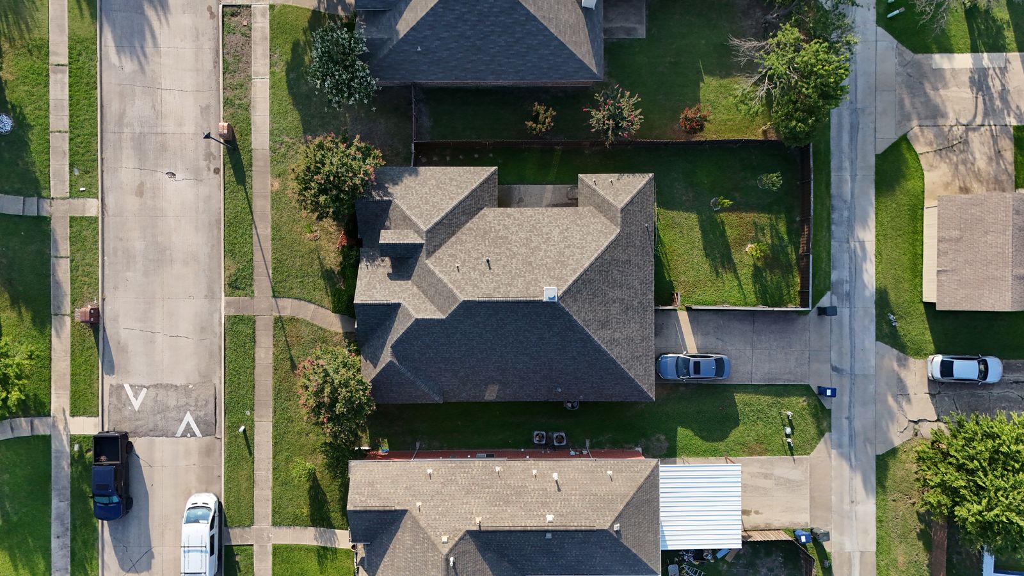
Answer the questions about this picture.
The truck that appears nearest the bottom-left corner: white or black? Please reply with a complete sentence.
In this view, the truck that appears nearest the bottom-left corner is black.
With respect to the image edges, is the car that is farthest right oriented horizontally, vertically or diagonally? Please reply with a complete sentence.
In this picture, the car that is farthest right is oriented horizontally.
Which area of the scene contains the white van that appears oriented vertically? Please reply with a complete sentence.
The white van that appears oriented vertically is located in the bottom left region of the scene.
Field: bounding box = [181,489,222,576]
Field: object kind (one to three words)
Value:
van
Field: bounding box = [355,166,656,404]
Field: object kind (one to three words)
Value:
house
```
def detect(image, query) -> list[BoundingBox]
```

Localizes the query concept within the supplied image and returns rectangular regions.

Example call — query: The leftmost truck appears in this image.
[90,428,133,520]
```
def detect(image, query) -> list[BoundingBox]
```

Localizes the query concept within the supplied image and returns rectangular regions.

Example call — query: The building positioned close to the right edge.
[922,191,1024,311]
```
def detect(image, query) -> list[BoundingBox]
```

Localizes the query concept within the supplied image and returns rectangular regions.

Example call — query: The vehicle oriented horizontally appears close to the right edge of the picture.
[927,352,1004,386]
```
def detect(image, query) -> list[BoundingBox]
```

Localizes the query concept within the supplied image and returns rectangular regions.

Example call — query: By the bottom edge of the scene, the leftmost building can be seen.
[347,443,662,576]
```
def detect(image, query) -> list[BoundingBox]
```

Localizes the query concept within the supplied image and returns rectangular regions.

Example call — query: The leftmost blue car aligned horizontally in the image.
[655,351,730,385]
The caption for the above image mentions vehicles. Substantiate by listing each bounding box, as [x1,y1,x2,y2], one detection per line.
[90,428,133,520]
[655,351,730,385]
[181,489,222,576]
[927,352,1004,386]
